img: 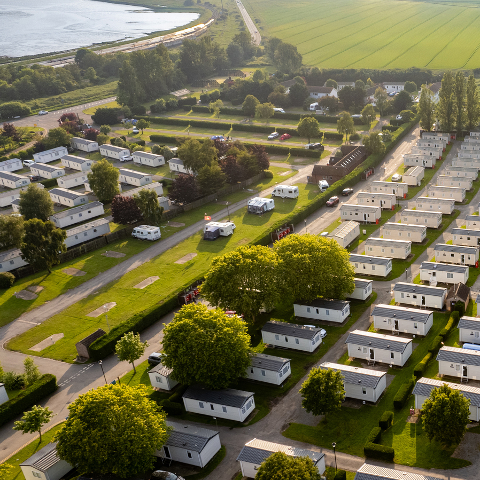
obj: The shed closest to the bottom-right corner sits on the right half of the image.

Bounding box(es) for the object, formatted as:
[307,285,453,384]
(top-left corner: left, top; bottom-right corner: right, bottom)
[442,279,475,315]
